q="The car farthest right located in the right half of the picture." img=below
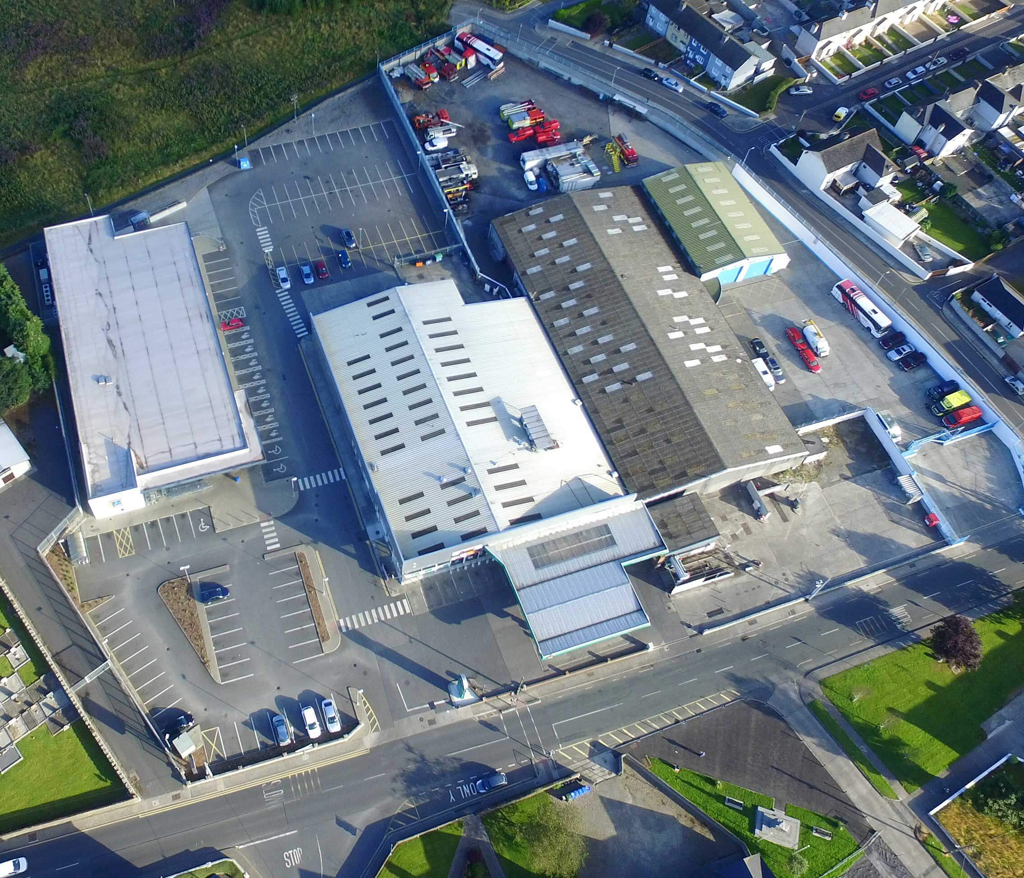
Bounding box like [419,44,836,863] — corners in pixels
[1003,376,1024,397]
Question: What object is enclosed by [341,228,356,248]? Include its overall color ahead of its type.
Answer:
blue car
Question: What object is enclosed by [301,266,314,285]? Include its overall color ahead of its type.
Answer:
blue vehicle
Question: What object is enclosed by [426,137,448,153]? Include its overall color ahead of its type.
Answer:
white vehicle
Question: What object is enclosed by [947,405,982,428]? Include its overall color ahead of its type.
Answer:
red vehicle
